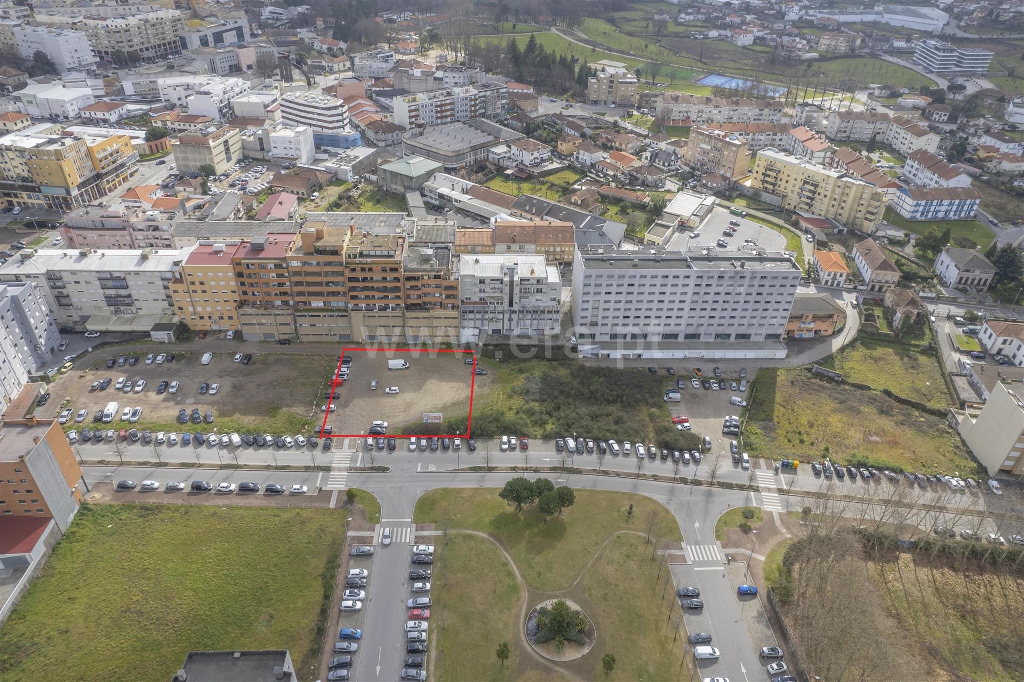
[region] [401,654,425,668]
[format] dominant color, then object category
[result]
gray car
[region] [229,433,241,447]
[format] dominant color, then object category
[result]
white vehicle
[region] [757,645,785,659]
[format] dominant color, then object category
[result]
gray car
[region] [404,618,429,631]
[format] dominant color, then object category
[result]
white vehicle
